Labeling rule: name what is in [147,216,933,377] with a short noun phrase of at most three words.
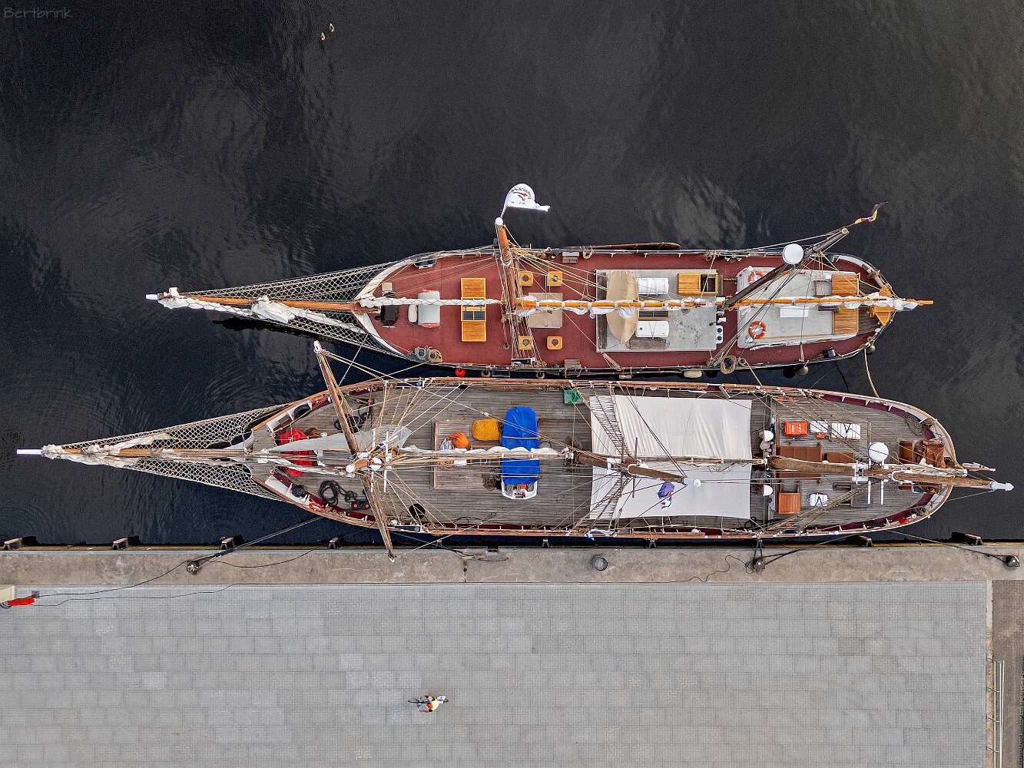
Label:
ship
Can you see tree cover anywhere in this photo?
No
